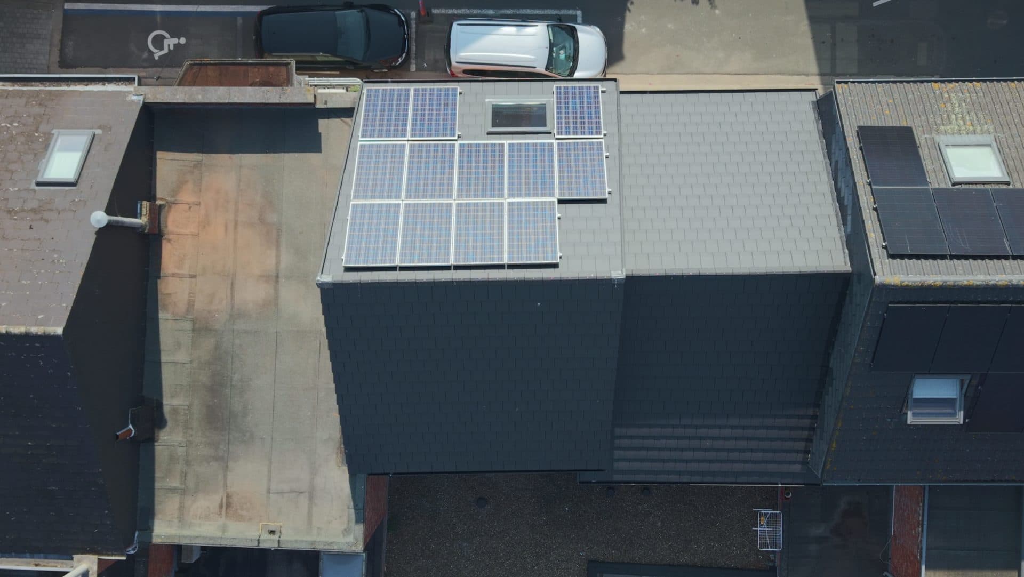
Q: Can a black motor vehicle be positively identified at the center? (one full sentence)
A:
No, no black motor vehicle can be made out at the center.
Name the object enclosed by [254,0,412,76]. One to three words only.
car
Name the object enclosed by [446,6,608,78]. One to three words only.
vehicle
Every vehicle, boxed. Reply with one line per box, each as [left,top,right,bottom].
[446,6,608,78]
[254,0,412,76]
